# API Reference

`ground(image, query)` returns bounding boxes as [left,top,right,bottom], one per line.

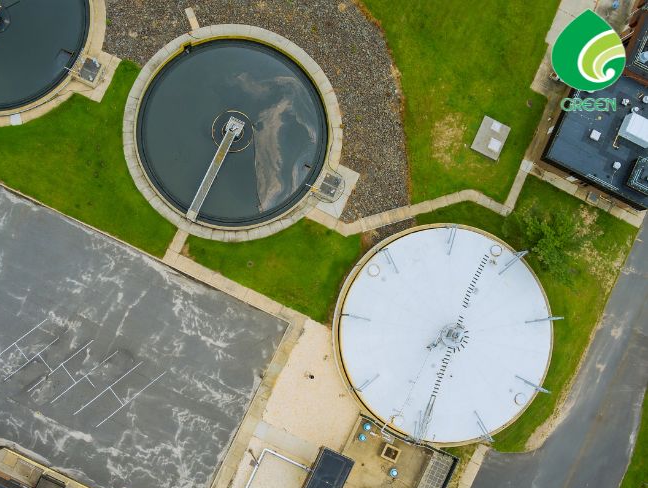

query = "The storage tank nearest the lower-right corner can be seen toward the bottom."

[331,224,561,445]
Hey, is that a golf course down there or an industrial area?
industrial area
